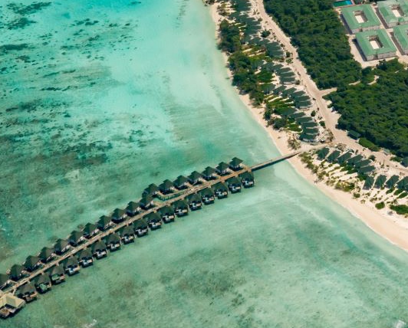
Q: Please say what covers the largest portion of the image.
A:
water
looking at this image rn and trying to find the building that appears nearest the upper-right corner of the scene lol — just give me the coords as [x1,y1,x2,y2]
[378,0,408,28]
